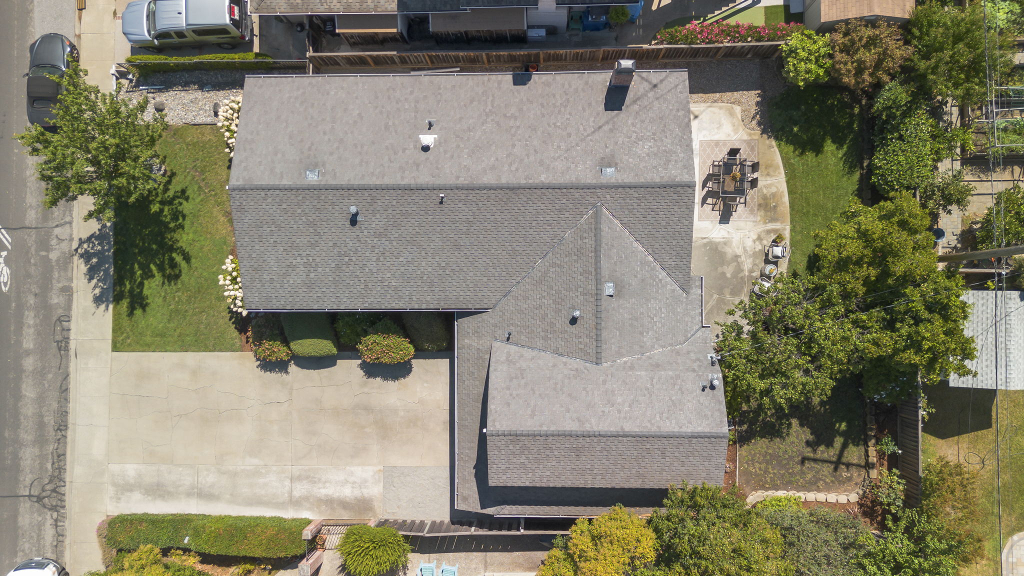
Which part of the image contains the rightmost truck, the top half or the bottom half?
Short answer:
top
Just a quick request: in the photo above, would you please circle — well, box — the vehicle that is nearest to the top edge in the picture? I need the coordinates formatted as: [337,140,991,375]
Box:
[120,0,257,54]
